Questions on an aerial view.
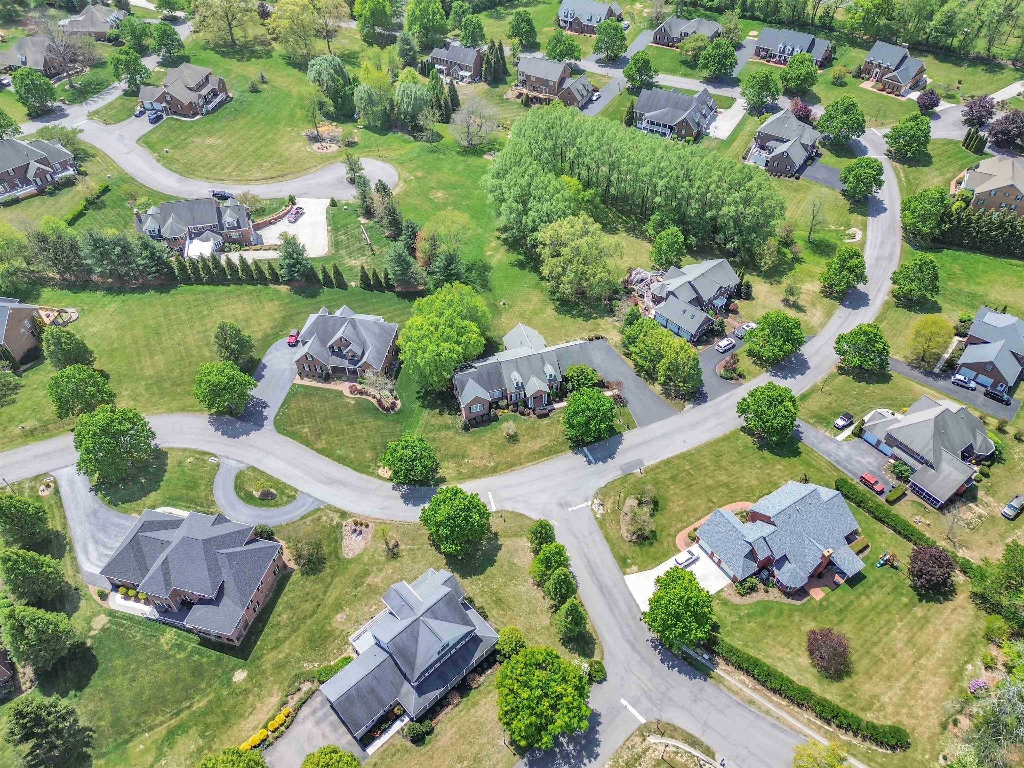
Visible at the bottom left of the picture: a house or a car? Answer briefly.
house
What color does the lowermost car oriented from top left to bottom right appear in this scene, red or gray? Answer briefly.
red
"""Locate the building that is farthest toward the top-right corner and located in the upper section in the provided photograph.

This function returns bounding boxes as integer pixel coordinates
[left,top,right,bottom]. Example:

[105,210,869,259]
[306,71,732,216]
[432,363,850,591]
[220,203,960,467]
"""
[861,40,926,98]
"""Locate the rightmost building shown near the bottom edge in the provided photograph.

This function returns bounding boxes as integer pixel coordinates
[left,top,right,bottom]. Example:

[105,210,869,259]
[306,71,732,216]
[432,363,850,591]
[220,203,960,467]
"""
[319,564,500,738]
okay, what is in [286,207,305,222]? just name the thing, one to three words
vehicle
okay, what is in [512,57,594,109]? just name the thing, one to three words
house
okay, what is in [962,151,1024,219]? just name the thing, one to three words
house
